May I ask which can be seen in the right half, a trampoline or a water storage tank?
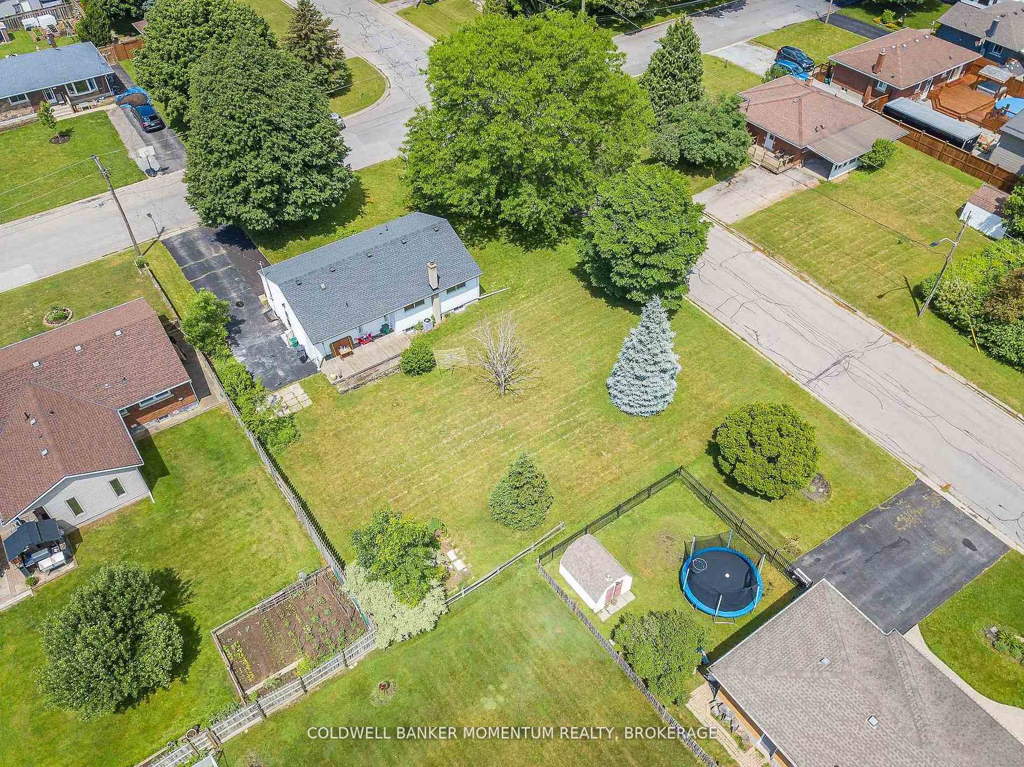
trampoline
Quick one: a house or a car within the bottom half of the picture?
house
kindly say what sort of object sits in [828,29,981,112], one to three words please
house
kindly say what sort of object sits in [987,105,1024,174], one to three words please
house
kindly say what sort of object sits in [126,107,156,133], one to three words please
car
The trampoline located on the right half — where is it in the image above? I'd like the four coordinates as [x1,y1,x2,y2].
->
[679,529,768,624]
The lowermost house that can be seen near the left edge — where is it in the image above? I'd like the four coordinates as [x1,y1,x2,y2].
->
[0,294,198,528]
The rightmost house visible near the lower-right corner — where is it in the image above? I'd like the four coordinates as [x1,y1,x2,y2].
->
[703,578,1024,767]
